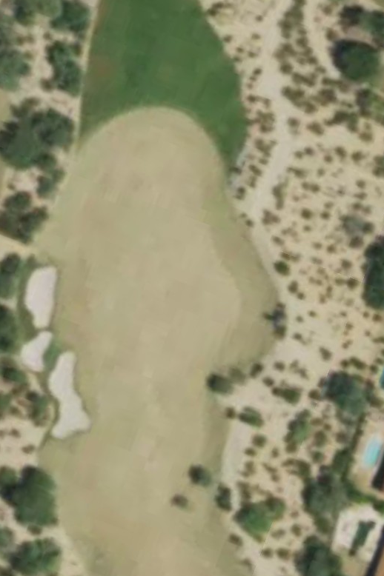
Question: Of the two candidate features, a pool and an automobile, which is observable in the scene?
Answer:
pool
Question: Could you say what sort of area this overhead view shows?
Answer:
golf course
